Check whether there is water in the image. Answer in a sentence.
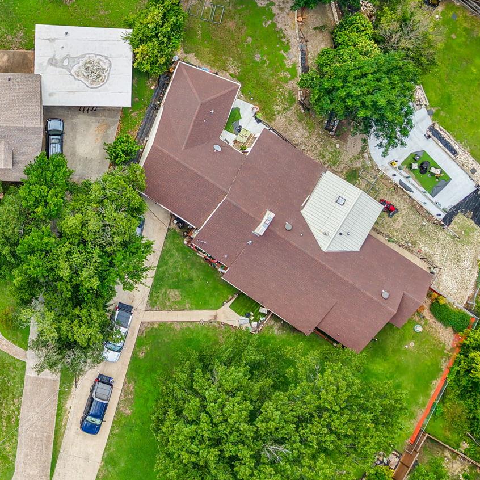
No, the picture contains no water.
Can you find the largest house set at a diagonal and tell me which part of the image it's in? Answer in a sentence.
The largest house set at a diagonal is in the center part of the image.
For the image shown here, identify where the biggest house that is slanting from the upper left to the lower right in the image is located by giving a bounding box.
[138,61,433,354]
